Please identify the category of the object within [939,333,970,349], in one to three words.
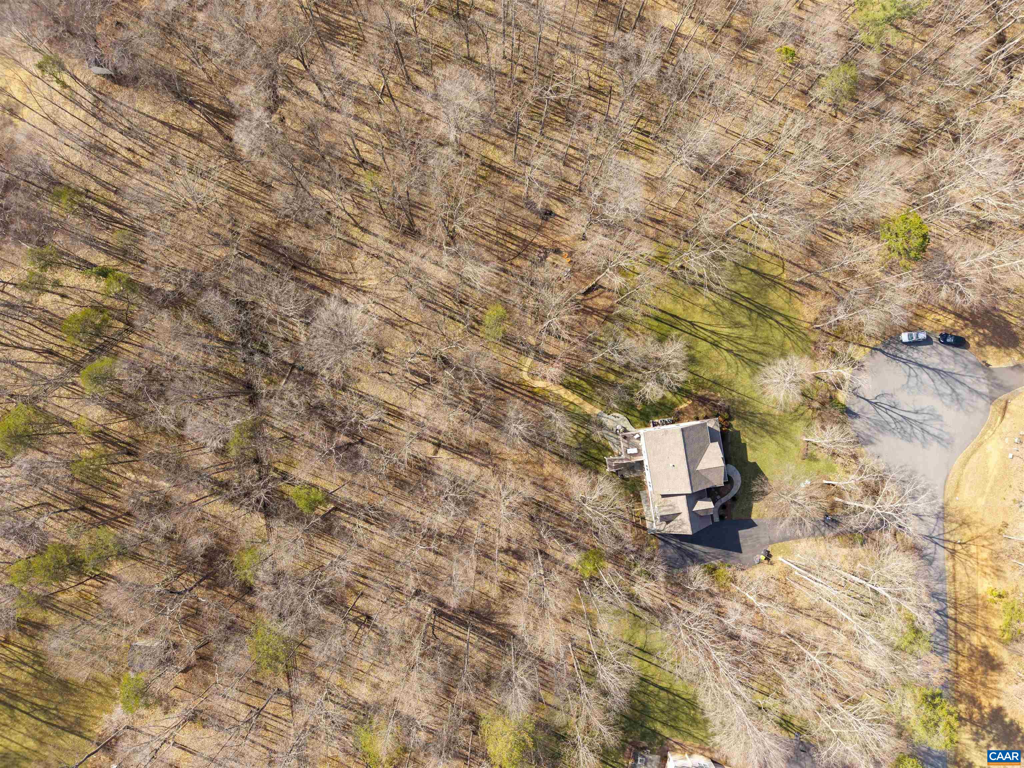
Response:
car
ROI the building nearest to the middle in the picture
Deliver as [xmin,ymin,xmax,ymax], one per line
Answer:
[604,417,729,535]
